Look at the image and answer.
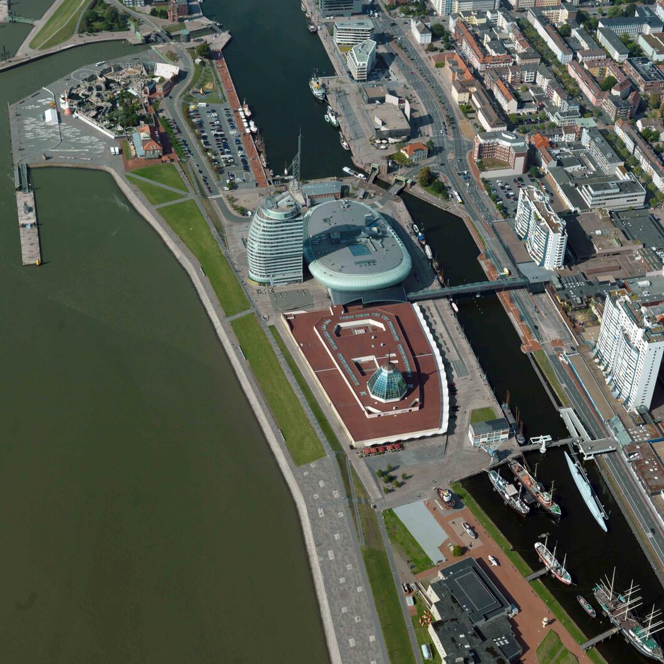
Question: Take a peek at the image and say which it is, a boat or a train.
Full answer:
Visible in the photo is a boat.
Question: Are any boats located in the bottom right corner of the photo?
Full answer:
Yes, a boat shows up in the bottom right corner of the photo.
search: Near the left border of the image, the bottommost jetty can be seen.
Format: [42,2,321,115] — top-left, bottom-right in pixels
[14,190,44,268]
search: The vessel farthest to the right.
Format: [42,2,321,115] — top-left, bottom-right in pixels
[593,567,664,664]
